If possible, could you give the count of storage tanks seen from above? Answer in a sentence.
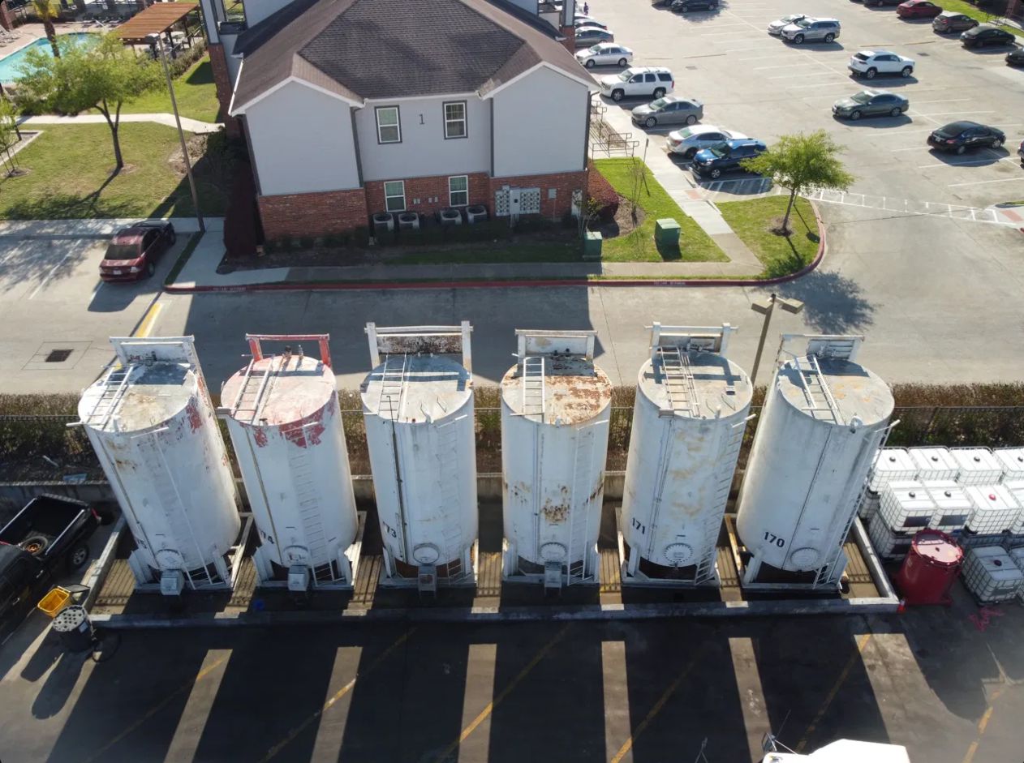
The photo contains 7 storage tanks.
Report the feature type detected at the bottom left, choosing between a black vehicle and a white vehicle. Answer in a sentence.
The one visible at the bottom left is a black vehicle.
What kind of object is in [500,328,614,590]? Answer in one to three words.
storage tank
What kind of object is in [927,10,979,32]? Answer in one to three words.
car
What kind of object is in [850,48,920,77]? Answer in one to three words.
car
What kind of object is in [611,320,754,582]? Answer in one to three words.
storage tank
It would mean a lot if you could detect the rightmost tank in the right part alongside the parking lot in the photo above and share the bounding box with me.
[725,327,898,580]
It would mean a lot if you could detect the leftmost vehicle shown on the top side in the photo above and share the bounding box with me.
[100,212,182,282]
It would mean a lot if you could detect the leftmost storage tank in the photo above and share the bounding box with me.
[54,332,251,597]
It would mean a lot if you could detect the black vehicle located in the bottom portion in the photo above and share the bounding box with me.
[0,491,101,651]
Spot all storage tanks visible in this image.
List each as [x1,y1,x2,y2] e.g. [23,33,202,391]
[895,533,967,614]
[611,320,754,582]
[359,321,482,593]
[725,327,898,580]
[54,332,251,597]
[500,328,614,590]
[203,332,368,595]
